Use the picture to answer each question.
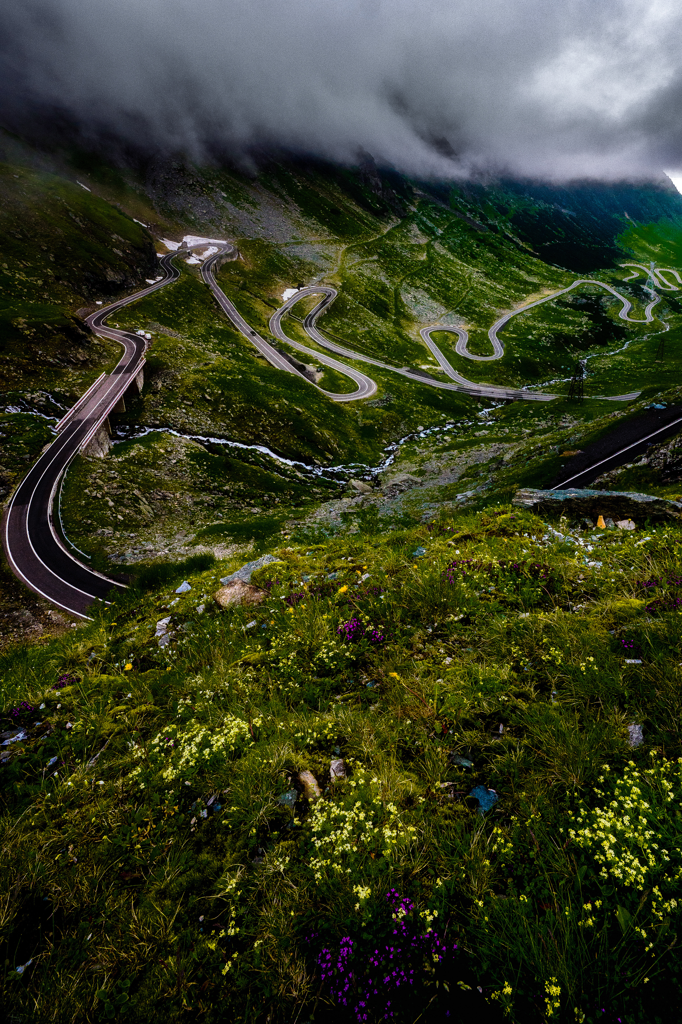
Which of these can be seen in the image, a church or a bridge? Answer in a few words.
bridge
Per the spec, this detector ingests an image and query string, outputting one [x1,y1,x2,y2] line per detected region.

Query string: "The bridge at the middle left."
[30,359,148,449]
